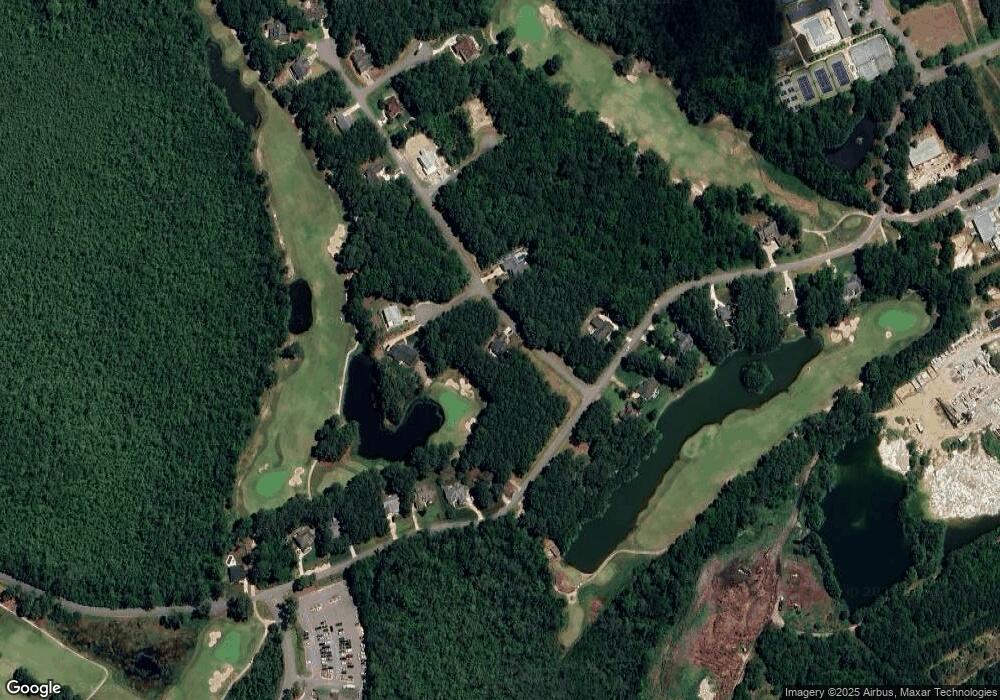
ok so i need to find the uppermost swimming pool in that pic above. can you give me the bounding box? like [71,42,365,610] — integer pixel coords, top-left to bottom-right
[791,9,842,50]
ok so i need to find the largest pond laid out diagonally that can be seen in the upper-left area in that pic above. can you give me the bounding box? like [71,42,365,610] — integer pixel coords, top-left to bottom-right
[207,40,262,127]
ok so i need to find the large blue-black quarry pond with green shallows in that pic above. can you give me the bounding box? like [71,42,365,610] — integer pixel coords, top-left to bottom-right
[821,433,908,611]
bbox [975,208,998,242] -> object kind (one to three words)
building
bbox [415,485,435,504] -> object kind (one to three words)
house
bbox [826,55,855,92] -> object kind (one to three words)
tennis court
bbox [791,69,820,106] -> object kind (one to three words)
tennis court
